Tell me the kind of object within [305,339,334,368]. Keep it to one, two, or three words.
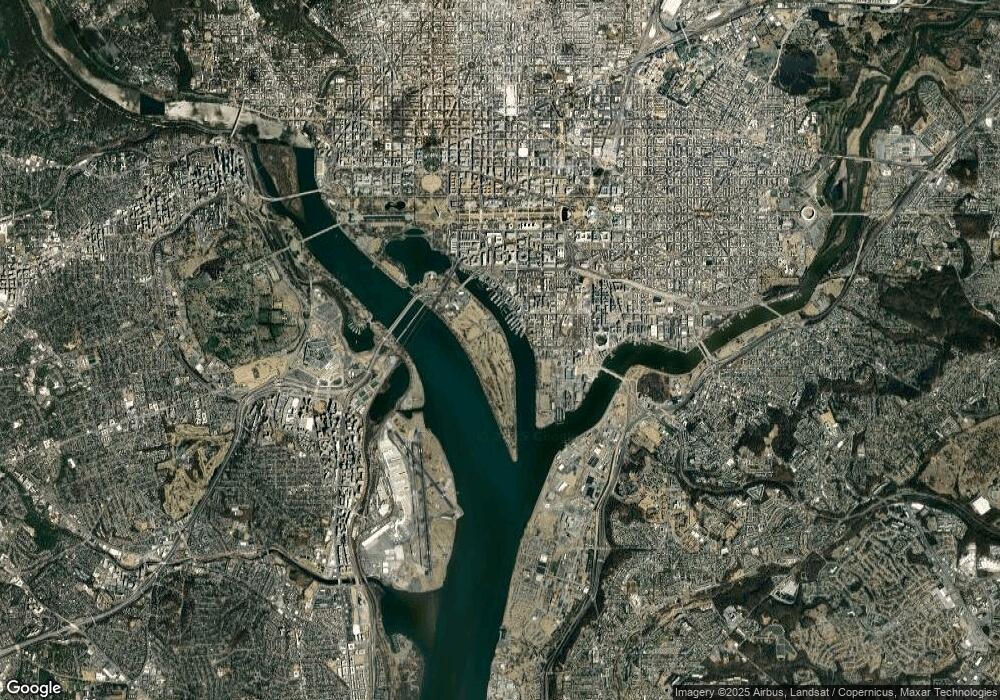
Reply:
building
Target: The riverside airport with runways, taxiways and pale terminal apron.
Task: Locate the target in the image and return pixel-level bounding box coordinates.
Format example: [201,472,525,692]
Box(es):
[361,422,463,574]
